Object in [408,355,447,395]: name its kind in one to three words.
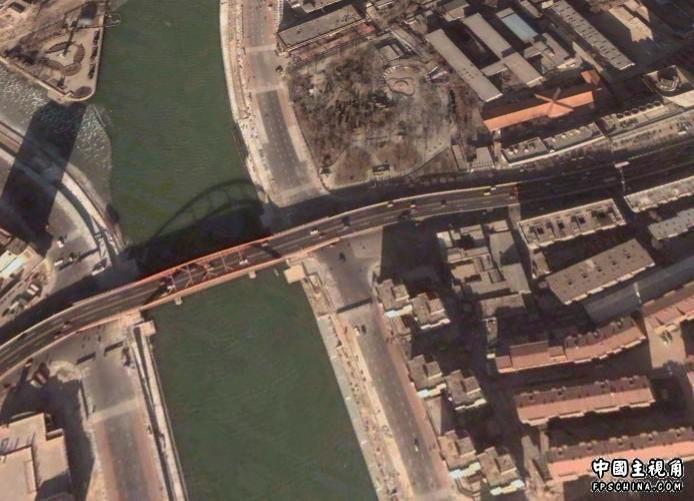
building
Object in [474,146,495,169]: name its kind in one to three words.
house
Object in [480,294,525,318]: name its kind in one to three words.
house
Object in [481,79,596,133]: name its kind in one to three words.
building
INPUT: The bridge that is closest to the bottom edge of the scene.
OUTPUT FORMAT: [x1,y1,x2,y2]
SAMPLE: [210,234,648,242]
[0,175,569,381]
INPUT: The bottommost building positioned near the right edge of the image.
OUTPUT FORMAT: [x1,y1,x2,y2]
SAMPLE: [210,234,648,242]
[546,426,694,485]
